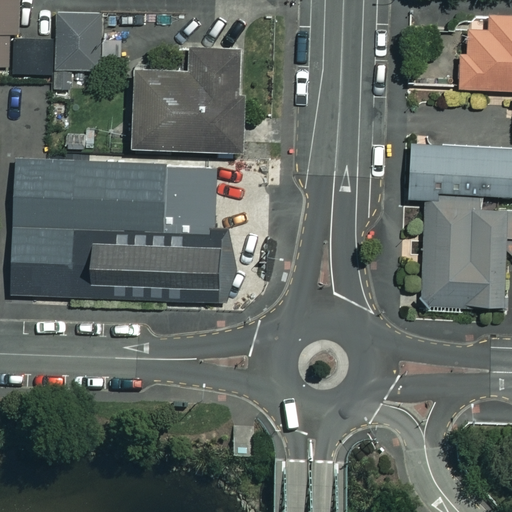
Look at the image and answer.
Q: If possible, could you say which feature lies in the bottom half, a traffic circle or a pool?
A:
traffic circle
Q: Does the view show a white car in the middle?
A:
Yes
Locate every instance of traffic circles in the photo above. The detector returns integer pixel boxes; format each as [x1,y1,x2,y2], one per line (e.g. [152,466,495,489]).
[298,340,348,390]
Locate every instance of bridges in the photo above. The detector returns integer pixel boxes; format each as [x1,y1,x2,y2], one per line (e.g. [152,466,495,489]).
[275,441,346,512]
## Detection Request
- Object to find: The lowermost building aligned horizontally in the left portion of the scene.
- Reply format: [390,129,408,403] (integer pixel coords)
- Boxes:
[10,229,237,303]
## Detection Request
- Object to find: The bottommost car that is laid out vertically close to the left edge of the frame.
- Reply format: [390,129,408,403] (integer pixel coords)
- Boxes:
[7,88,21,120]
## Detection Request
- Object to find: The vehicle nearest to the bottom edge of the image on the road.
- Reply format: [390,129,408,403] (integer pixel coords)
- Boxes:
[281,397,298,432]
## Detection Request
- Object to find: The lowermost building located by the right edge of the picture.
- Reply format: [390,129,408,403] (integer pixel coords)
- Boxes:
[420,194,507,314]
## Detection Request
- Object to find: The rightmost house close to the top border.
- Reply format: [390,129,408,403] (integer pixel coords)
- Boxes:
[458,15,512,92]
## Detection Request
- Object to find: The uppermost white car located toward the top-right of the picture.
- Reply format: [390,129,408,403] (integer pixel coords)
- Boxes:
[374,30,388,58]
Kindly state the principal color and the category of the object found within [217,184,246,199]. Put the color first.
red car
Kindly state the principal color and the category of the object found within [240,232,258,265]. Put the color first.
white car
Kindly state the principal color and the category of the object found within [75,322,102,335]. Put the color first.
white vehicle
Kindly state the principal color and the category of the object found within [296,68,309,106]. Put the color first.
white vehicle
